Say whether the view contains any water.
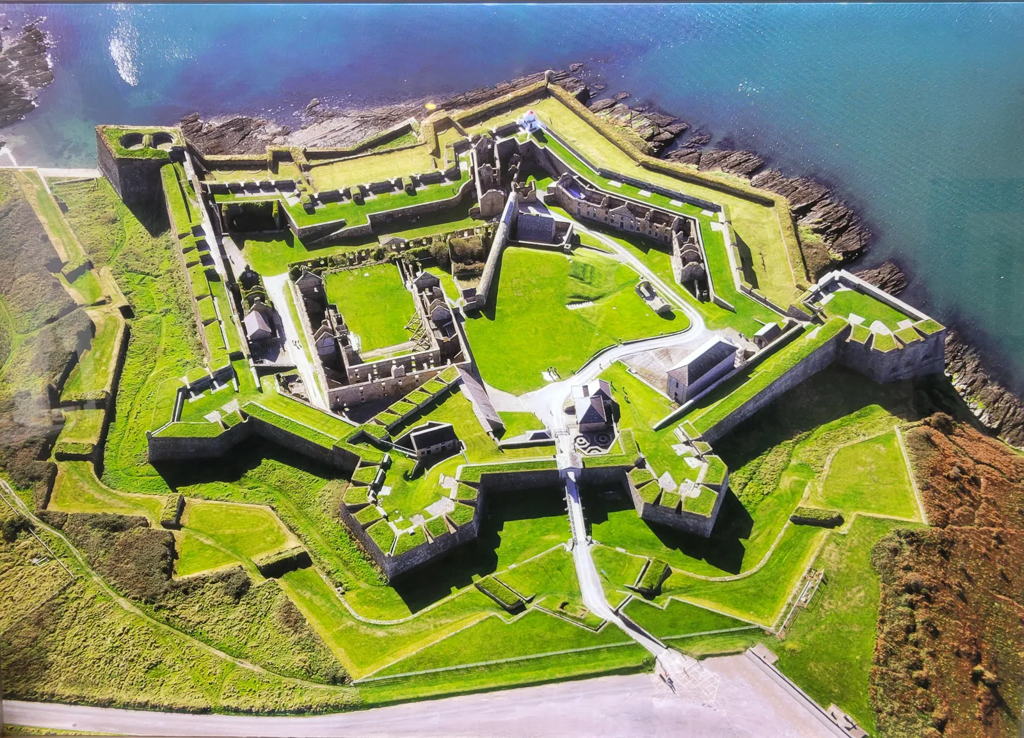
Yes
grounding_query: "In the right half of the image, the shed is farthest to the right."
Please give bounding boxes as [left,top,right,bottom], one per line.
[751,321,783,347]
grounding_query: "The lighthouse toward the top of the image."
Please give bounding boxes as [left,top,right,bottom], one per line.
[517,109,547,139]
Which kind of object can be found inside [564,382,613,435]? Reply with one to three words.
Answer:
building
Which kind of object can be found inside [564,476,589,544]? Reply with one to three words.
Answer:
bridge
